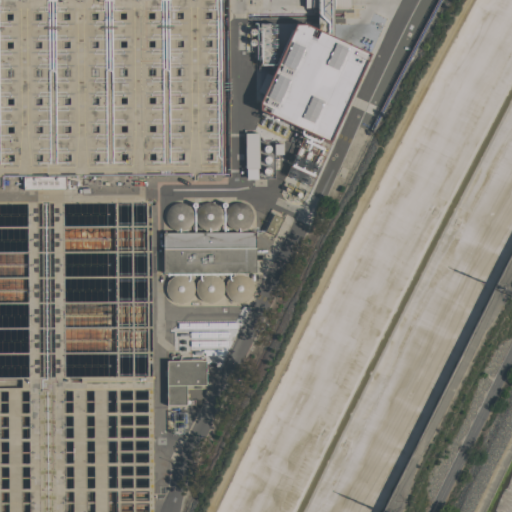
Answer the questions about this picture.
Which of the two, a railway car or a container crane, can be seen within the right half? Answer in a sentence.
The one visible within the right half is a railway car.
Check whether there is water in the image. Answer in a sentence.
Yes, there is water in the image.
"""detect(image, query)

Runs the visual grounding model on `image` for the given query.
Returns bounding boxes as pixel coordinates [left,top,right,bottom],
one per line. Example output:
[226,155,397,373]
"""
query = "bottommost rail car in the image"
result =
[372,113,385,132]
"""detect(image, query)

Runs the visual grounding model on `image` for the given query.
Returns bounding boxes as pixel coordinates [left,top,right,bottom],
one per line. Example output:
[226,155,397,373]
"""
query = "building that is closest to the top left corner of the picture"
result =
[24,176,66,190]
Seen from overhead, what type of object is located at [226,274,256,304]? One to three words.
storage tank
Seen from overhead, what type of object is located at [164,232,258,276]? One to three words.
building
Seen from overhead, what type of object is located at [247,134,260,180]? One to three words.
building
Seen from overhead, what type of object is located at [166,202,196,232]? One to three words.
storage tank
